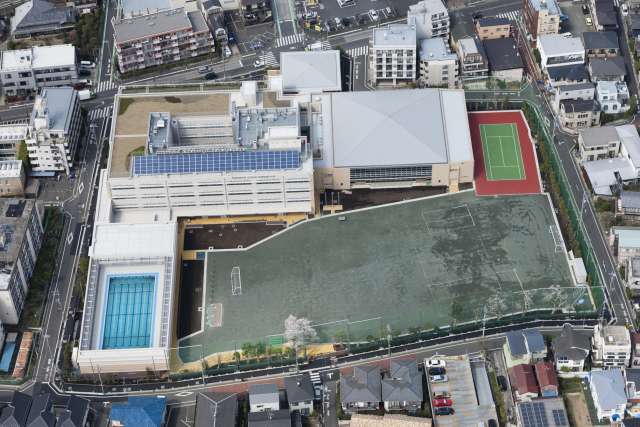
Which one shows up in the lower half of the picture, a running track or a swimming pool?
swimming pool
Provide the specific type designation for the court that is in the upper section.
tennis court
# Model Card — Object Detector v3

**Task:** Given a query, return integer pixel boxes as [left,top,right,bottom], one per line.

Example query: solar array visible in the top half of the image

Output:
[133,150,299,174]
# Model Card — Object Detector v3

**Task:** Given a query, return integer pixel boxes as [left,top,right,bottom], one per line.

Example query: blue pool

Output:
[99,274,159,348]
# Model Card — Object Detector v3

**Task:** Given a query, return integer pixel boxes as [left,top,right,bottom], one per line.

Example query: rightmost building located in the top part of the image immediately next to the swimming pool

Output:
[94,69,322,246]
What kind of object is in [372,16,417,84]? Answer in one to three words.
building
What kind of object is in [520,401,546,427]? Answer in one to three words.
solar array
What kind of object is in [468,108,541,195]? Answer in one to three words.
tennis court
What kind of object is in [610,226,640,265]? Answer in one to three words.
house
